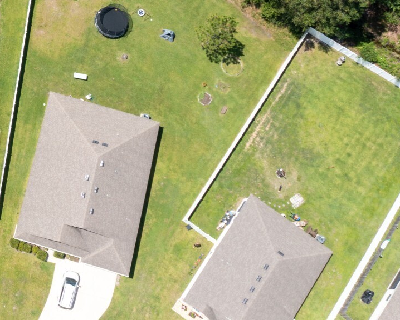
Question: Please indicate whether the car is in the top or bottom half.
bottom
